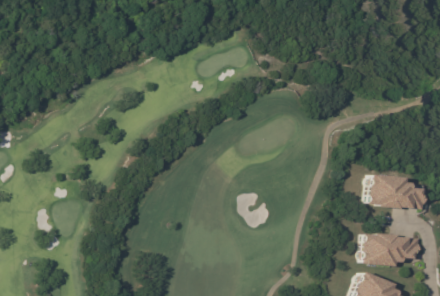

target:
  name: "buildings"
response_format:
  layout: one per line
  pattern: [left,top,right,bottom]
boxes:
[362,176,428,210]
[353,234,422,268]
[345,270,402,296]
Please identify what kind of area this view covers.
golf course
